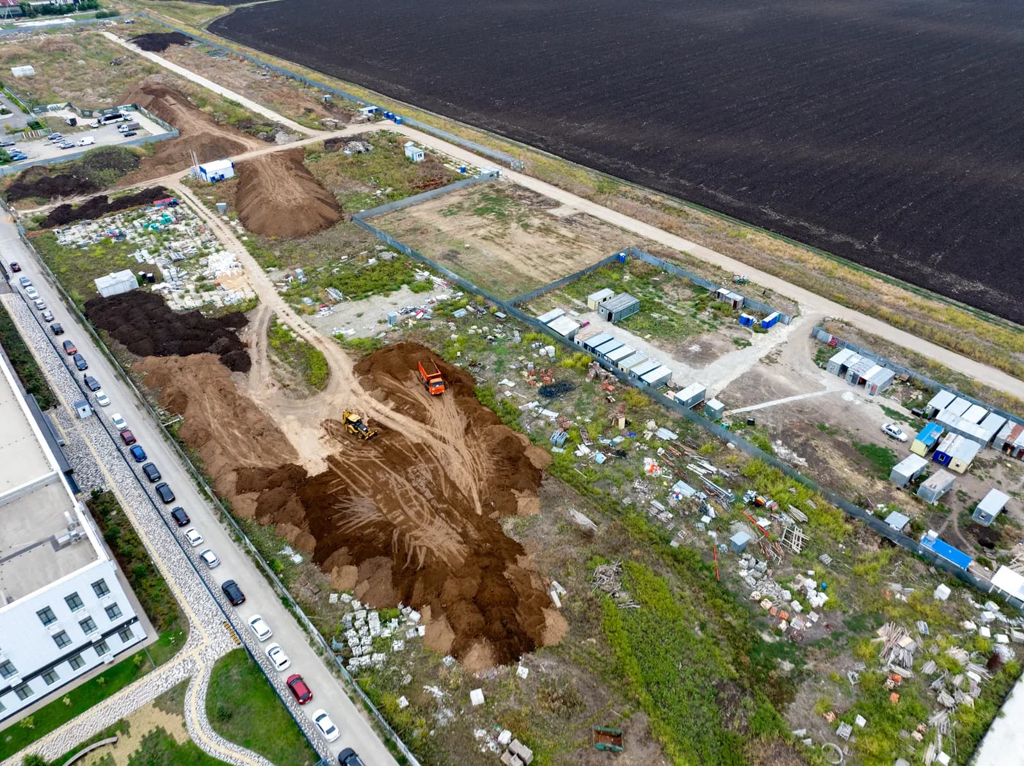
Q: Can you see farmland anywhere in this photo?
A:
Yes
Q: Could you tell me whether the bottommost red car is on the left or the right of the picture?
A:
left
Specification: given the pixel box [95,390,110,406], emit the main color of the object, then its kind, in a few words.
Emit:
white car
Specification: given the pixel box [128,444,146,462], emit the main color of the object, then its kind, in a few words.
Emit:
blue car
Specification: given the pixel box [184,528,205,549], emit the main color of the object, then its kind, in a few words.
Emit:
white car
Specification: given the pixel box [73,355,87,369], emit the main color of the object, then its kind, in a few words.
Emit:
blue car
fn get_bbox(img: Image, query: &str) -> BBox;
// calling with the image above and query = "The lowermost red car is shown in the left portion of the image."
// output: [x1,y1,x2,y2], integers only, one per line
[286,675,312,705]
